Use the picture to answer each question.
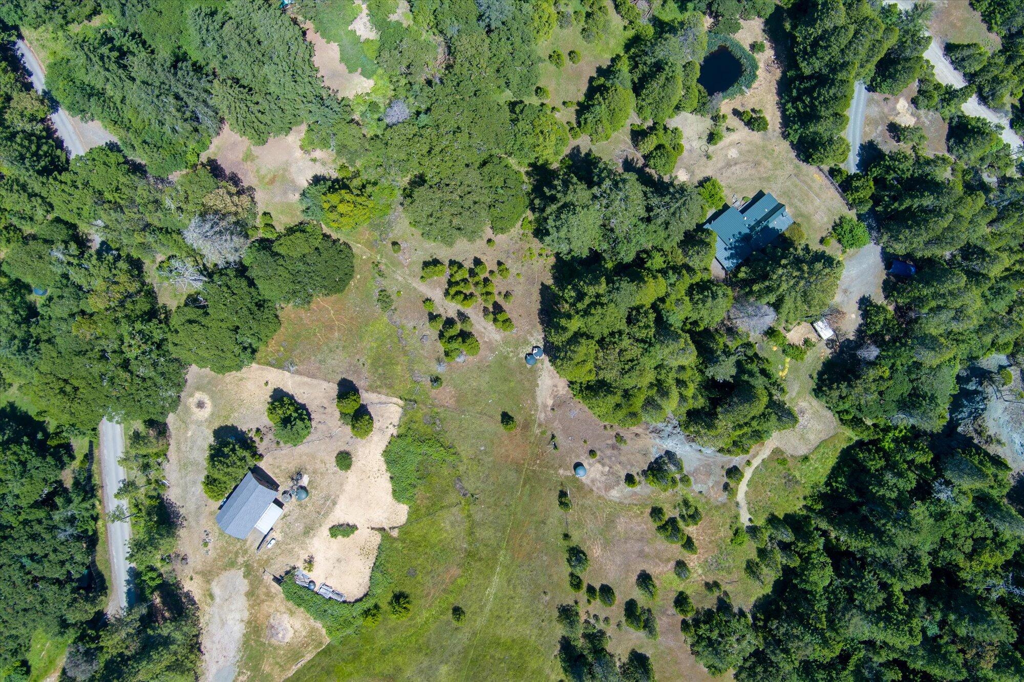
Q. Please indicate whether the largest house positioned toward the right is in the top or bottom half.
top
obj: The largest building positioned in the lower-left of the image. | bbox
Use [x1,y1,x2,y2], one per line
[216,471,286,539]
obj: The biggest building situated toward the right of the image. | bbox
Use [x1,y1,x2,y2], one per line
[707,192,794,272]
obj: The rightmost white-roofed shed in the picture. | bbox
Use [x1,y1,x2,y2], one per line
[809,318,834,339]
